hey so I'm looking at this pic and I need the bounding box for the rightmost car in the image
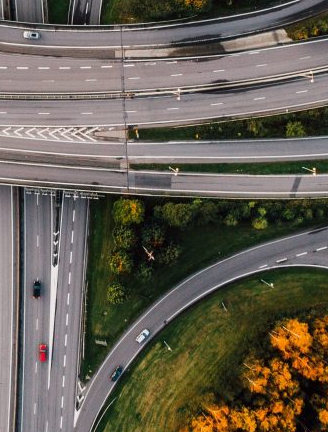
[135,328,150,343]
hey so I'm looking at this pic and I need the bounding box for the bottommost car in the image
[110,365,123,381]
